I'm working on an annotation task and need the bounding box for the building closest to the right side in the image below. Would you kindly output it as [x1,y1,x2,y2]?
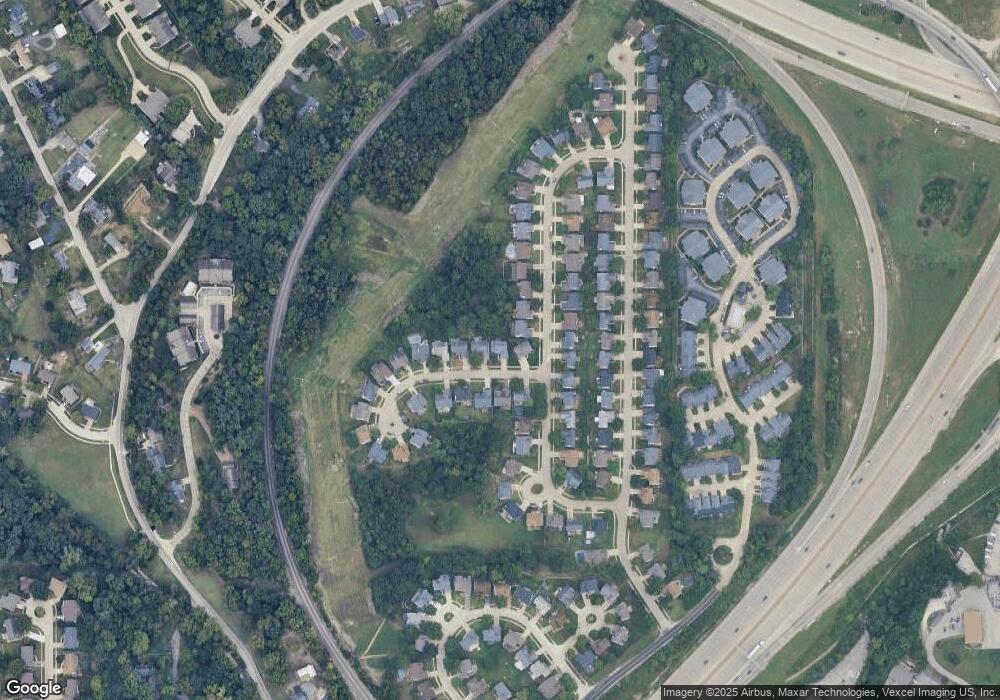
[964,611,983,643]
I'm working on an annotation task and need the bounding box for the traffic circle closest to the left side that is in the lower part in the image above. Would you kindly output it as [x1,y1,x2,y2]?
[520,473,553,506]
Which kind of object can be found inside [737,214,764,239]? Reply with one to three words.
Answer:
building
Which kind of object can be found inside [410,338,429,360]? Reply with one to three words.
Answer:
house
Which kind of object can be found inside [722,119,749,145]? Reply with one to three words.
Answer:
building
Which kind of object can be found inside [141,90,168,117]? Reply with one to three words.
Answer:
house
